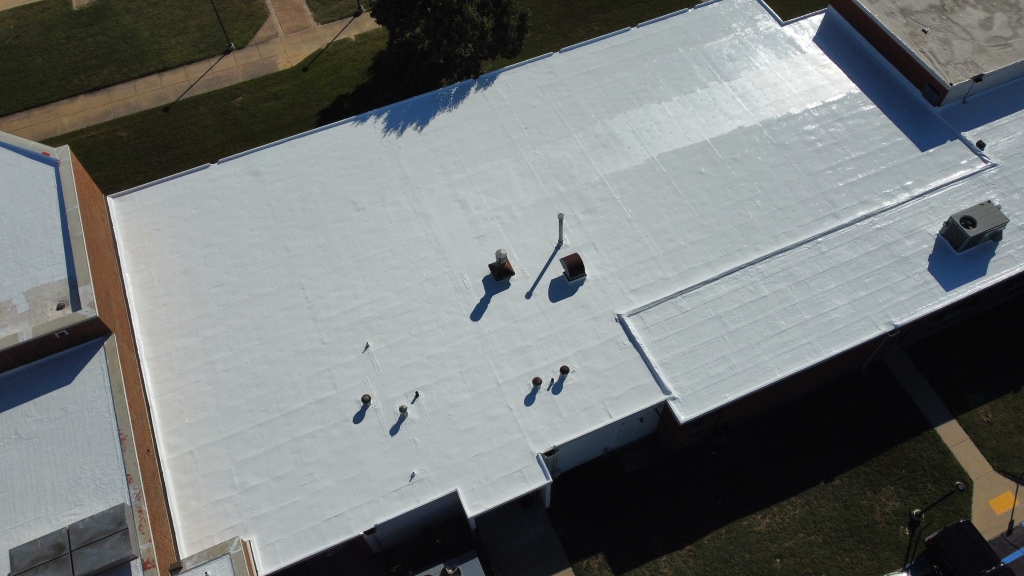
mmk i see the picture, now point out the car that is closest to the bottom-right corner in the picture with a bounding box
[921,517,1016,576]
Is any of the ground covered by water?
No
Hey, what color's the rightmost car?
black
